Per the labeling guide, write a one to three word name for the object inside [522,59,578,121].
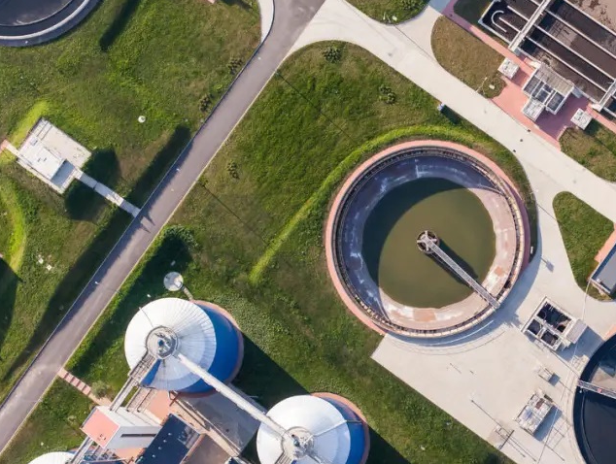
building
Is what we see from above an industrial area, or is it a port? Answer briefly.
industrial area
